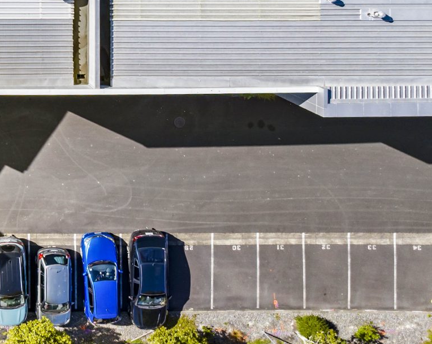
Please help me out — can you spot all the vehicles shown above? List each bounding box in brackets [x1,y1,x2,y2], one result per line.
[79,229,126,324]
[0,233,33,324]
[127,226,175,326]
[34,244,77,326]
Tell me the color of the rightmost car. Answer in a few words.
black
